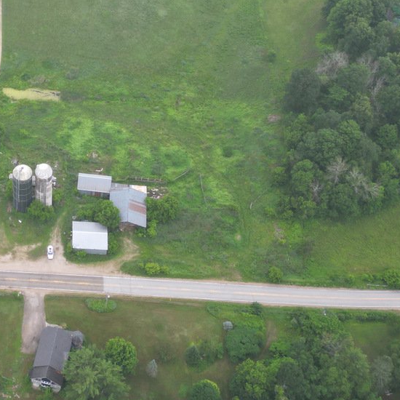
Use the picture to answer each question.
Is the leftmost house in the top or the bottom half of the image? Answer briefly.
bottom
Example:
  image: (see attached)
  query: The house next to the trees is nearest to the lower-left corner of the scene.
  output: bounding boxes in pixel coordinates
[31,325,73,391]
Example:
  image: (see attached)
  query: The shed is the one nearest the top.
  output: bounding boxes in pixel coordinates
[77,173,111,197]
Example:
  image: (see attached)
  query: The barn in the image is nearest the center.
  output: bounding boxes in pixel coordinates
[110,184,147,233]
